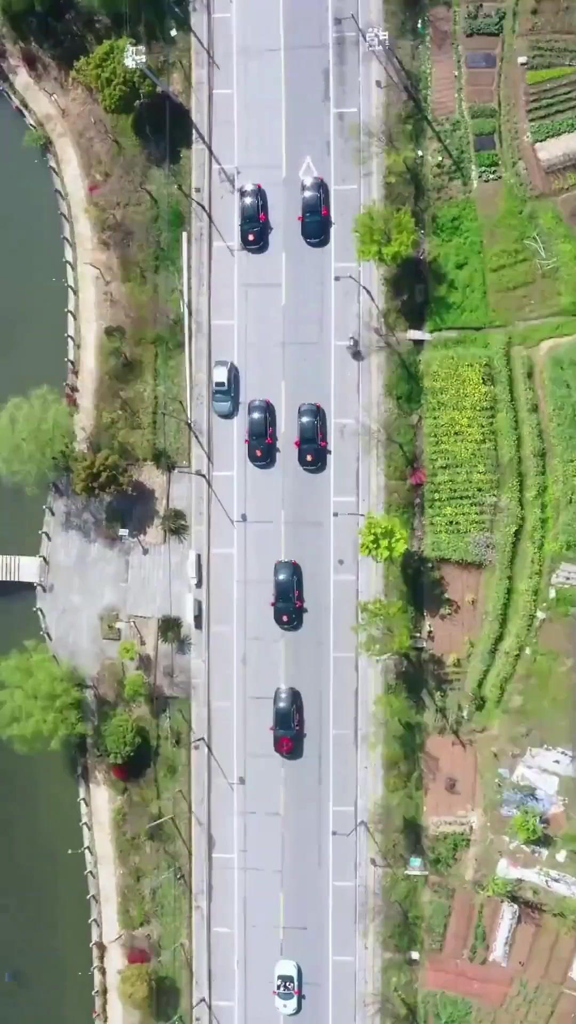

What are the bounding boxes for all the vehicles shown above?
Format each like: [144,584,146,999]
[269,560,299,628]
[210,361,238,418]
[243,399,273,466]
[293,402,323,470]
[296,176,326,242]
[271,958,300,1015]
[236,182,265,249]
[269,687,299,756]
[346,332,357,355]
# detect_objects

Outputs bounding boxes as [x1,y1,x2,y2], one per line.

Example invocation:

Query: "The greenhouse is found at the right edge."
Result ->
[533,131,576,173]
